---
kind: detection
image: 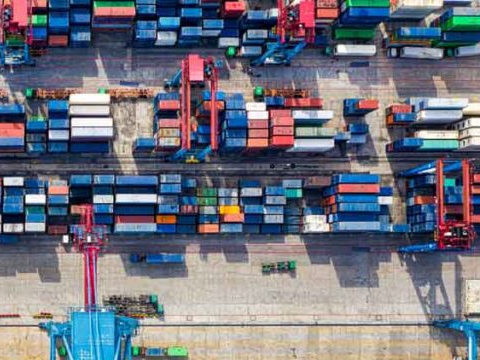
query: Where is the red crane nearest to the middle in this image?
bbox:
[164,54,225,166]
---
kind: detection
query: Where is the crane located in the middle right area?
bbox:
[398,157,479,258]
